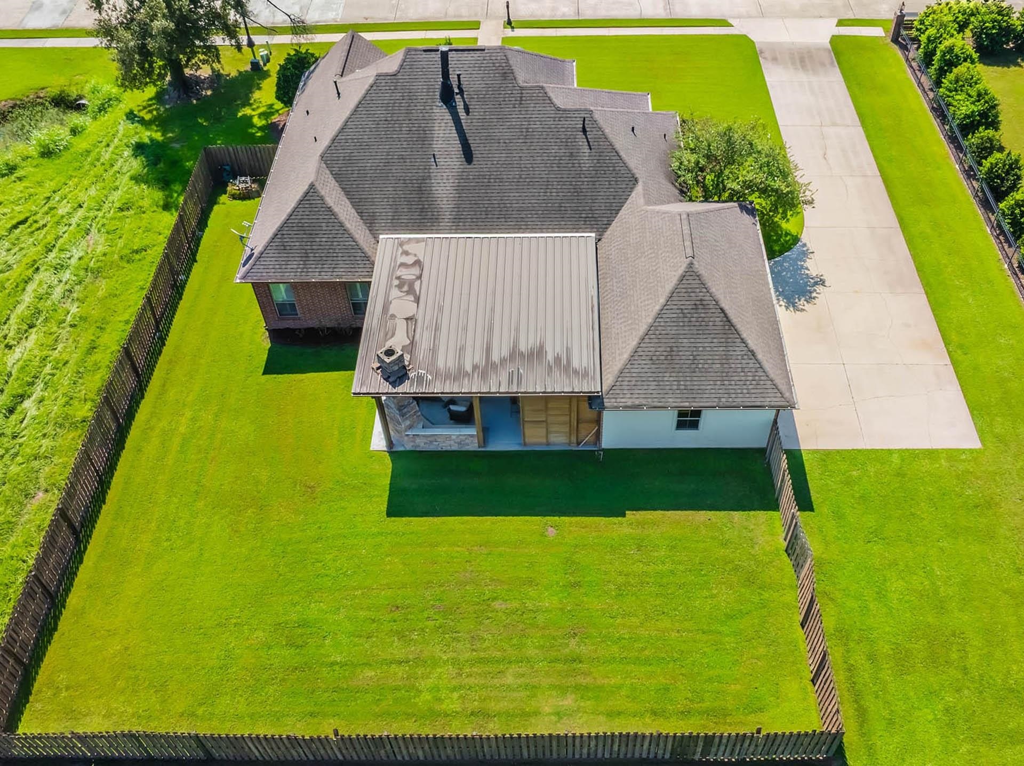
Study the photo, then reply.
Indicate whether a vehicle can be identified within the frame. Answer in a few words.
No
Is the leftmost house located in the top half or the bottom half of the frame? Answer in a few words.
top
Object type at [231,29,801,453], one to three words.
house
